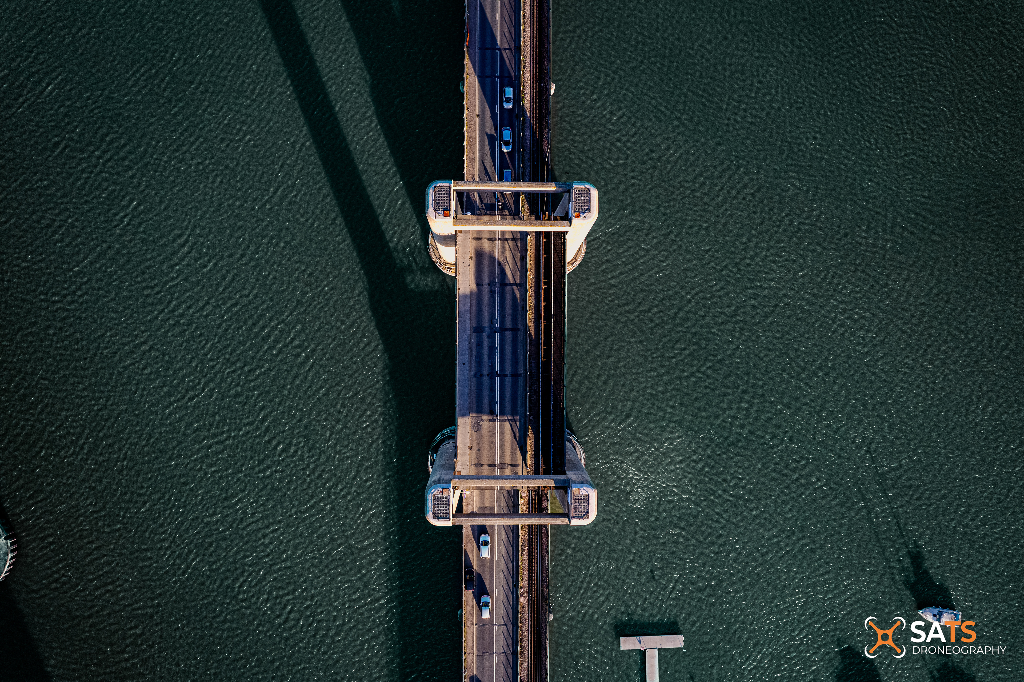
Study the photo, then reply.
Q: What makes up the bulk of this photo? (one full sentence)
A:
The scene is dominated by water.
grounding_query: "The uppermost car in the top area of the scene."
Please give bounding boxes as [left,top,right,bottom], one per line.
[502,86,514,110]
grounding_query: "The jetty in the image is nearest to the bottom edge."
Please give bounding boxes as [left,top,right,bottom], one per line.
[620,635,685,682]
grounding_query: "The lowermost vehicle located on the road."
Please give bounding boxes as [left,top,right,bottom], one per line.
[480,595,492,619]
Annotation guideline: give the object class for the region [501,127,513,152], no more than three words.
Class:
vehicle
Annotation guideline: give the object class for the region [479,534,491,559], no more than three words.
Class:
vehicle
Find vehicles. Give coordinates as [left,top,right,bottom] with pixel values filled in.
[501,127,513,152]
[502,86,514,110]
[502,164,512,181]
[464,567,475,592]
[479,534,491,559]
[480,595,492,619]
